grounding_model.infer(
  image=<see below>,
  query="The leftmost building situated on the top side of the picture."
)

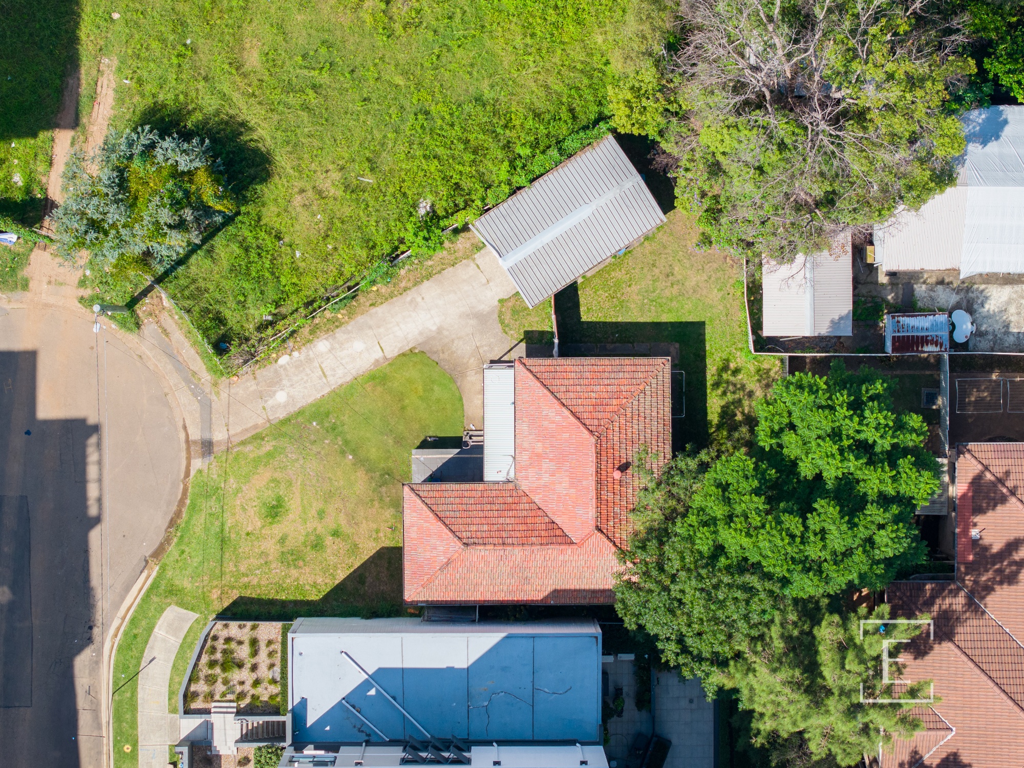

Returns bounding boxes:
[469,134,667,309]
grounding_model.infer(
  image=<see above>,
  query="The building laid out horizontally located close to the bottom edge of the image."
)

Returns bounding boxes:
[270,619,606,768]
